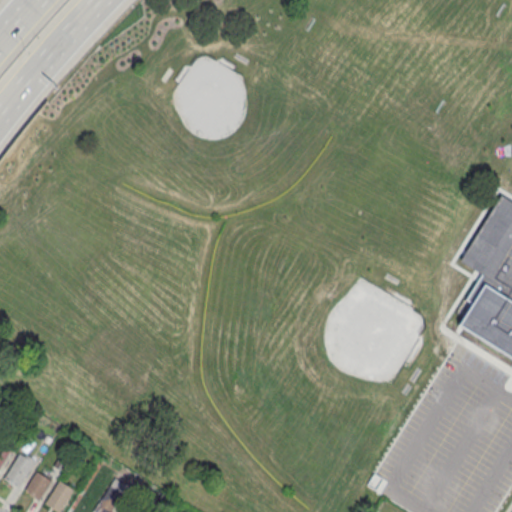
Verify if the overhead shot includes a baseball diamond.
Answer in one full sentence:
Yes, there's a baseball diamond down there.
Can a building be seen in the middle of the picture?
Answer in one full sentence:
No, I see no building in the middle of the picture.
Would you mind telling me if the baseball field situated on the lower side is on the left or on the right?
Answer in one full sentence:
It is on the right.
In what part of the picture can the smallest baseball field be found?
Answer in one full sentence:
The smallest baseball field appears toward the top of the photo.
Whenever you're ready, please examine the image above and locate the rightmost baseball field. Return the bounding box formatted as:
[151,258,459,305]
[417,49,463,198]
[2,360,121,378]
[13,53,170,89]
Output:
[326,276,422,383]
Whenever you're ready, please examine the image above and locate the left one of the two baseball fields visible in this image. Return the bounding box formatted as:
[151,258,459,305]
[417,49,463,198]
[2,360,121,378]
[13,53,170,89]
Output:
[175,56,248,140]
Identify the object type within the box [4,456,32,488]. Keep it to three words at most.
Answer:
house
